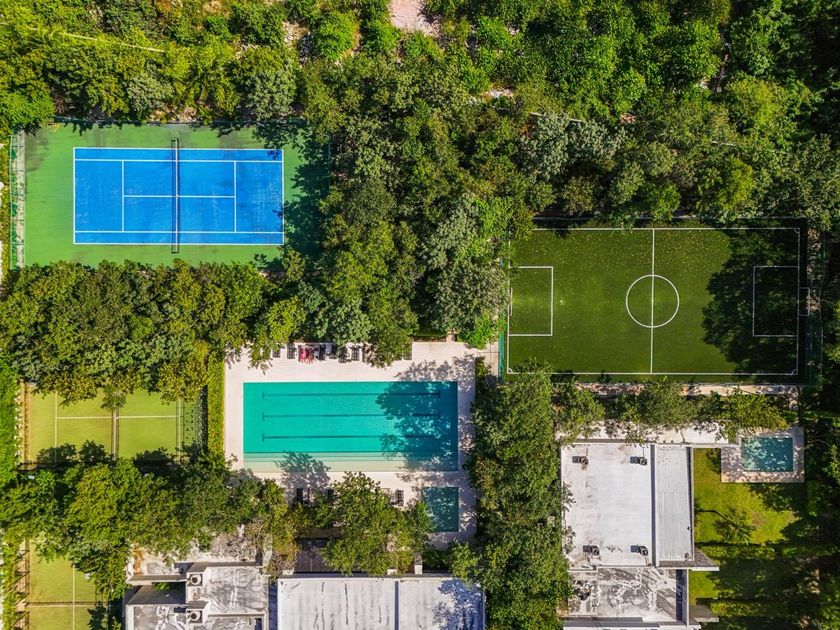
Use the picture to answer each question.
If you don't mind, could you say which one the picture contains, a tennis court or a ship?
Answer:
tennis court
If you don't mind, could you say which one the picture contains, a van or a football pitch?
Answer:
football pitch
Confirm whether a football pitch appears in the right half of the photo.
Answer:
Yes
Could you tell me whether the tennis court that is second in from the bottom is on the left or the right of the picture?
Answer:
left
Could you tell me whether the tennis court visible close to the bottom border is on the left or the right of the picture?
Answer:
left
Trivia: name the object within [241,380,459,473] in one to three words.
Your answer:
swimming pool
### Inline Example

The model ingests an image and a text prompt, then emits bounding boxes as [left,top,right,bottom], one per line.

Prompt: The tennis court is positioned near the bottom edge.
[27,530,105,630]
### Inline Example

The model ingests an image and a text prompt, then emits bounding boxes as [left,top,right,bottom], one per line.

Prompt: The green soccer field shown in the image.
[503,222,807,381]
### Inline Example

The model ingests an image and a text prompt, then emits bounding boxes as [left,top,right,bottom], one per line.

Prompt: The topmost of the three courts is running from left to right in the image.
[25,121,329,271]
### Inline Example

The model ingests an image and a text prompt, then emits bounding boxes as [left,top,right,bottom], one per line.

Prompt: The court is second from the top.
[27,372,198,474]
